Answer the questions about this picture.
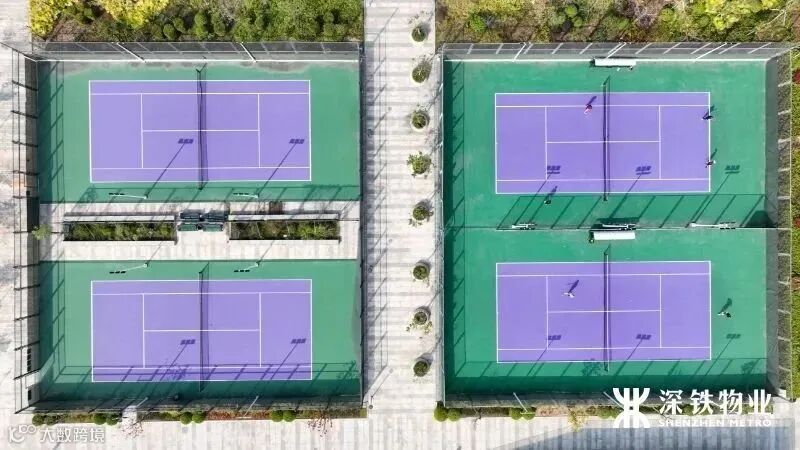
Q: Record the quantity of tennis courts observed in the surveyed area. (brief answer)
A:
4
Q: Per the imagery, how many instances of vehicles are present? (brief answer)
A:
0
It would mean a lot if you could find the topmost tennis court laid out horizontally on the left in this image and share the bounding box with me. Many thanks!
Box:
[37,62,359,205]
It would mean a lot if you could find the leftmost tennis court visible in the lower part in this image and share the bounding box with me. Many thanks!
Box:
[39,257,360,399]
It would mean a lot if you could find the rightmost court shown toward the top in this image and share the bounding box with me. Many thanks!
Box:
[440,62,765,229]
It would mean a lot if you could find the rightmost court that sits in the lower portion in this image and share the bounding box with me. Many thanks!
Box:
[441,228,766,398]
